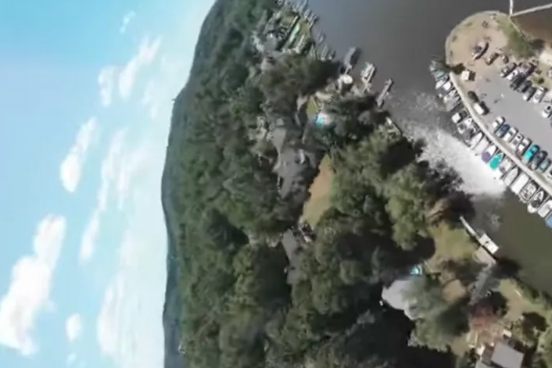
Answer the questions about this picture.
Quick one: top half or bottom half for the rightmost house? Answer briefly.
bottom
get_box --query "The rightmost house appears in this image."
[491,333,528,368]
